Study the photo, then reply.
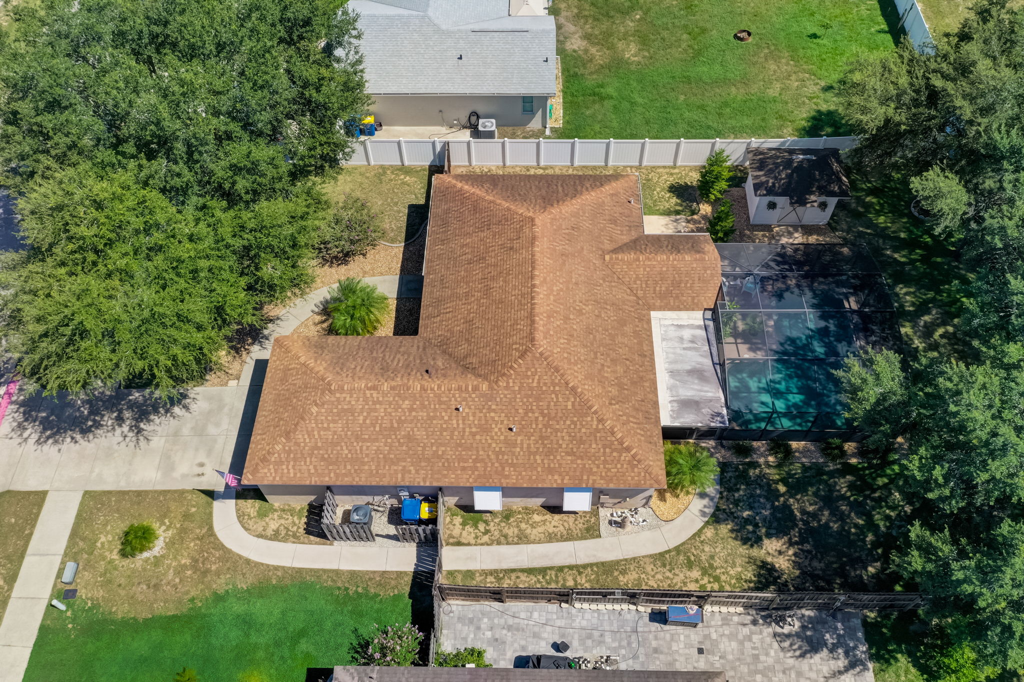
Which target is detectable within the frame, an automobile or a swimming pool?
swimming pool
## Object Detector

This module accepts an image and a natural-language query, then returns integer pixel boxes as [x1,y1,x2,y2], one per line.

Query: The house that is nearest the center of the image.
[241,172,731,512]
